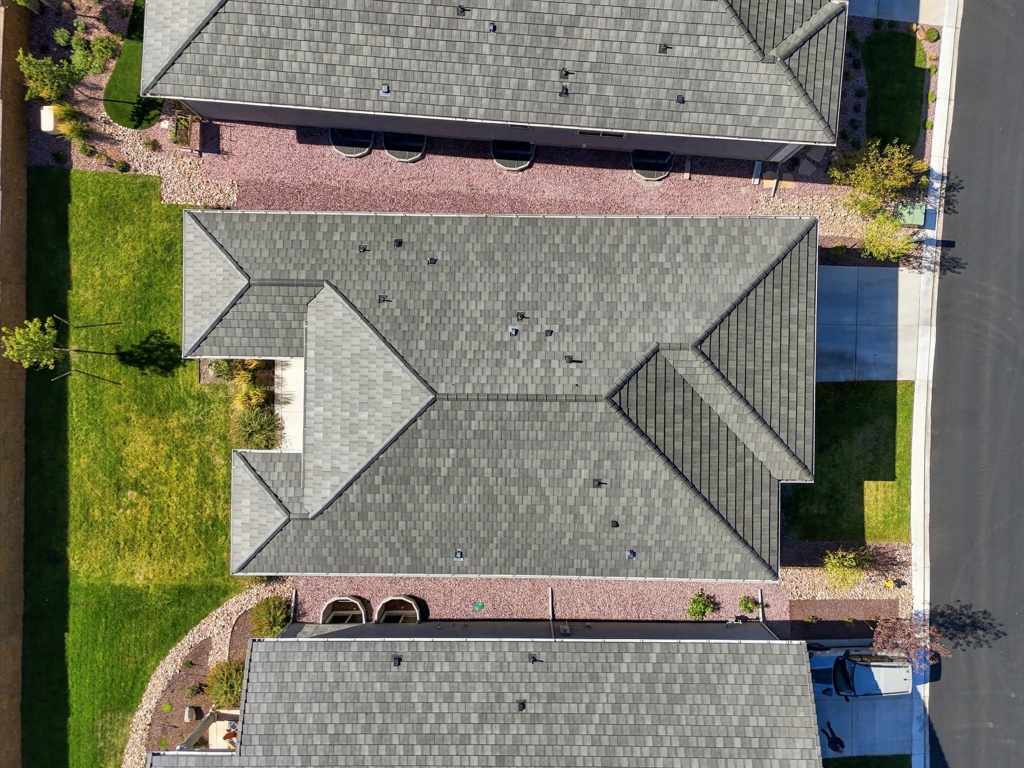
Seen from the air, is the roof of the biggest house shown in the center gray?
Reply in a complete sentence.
Yes, gray is the color of the roof of the biggest house shown in the center.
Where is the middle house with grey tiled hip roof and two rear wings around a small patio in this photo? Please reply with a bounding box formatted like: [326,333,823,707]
[182,210,818,582]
